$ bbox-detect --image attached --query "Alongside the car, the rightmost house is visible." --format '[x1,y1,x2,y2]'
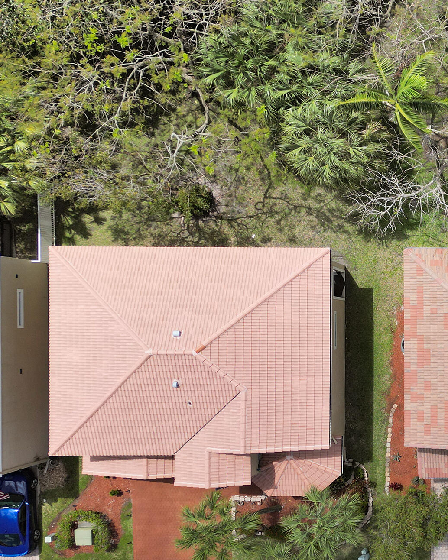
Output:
[46,245,346,498]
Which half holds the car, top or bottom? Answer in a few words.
bottom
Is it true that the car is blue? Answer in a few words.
Yes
